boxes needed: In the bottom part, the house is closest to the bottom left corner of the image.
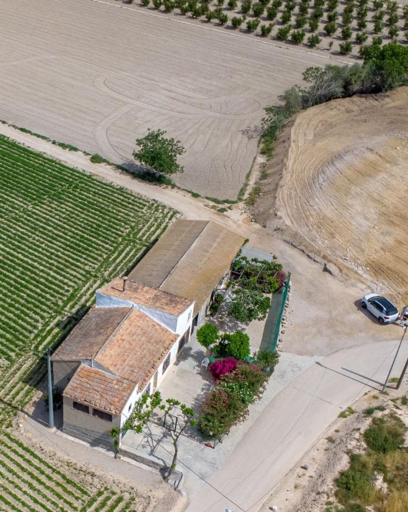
[46,275,198,457]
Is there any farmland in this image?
Yes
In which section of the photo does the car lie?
right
